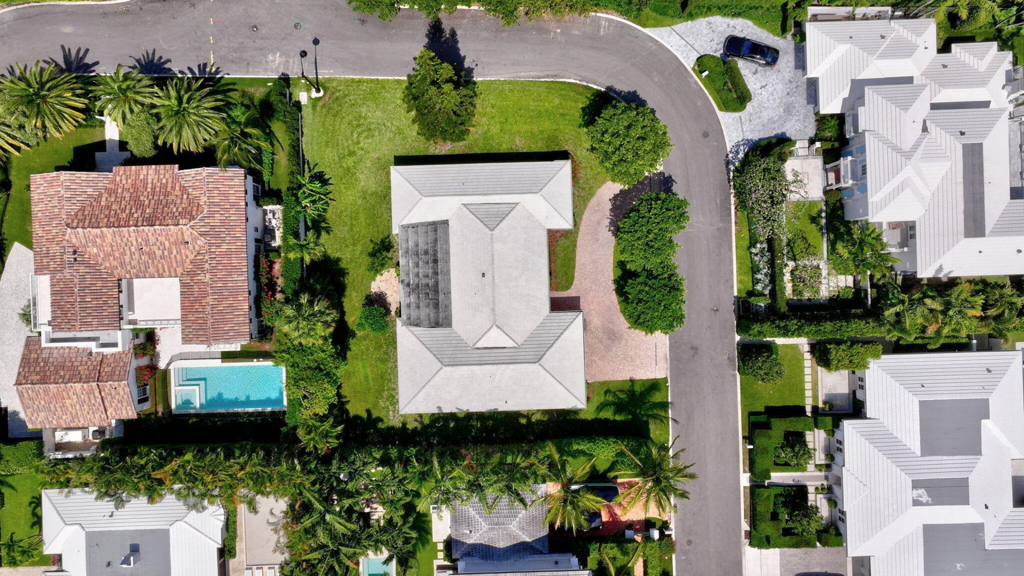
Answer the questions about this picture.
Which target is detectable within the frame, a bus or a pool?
pool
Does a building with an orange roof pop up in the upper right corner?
No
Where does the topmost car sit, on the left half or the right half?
right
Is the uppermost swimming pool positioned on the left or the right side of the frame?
left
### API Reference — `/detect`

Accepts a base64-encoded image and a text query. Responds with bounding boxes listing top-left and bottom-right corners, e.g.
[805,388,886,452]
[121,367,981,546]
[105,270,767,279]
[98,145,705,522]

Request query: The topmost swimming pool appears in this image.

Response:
[170,359,287,414]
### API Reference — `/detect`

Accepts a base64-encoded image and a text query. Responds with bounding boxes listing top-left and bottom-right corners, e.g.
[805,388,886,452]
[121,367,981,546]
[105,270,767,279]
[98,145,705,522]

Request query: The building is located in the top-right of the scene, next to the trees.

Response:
[804,19,1024,277]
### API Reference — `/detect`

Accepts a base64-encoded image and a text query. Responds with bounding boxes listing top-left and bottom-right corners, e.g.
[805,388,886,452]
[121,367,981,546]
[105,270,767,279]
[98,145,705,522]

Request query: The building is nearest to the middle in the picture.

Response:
[390,160,587,414]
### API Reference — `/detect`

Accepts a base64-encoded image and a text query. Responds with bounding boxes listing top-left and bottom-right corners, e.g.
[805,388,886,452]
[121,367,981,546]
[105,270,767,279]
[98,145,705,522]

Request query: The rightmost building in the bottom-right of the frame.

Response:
[833,351,1024,576]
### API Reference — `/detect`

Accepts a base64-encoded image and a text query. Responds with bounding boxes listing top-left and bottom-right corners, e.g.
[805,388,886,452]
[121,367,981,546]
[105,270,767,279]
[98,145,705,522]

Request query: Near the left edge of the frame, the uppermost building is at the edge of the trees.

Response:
[30,164,267,352]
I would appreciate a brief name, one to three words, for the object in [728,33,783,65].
car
